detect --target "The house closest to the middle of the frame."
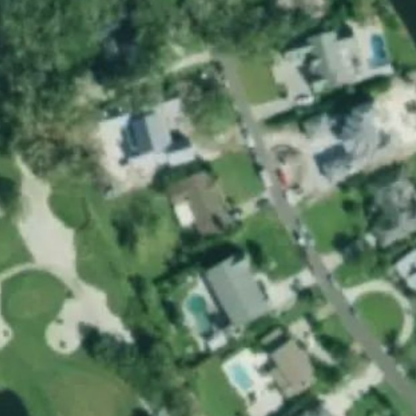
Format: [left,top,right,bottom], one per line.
[181,172,233,235]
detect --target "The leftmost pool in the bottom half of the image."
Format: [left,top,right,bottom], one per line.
[183,277,221,350]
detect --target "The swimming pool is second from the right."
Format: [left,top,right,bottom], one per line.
[223,348,283,416]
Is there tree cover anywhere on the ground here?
Yes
